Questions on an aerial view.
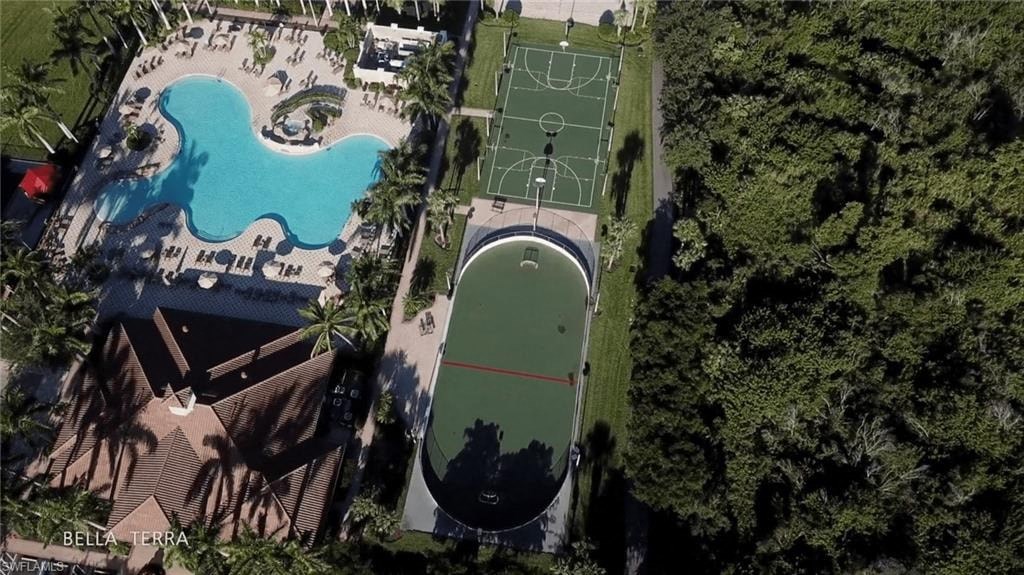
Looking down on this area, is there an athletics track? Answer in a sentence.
No, this view has no athletics track in it.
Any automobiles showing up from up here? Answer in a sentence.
No, no automobile is visible in the view.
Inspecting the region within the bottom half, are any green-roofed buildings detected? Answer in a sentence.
No, no green-roofed building appears within the bottom half.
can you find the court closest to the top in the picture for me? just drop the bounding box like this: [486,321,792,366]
[519,0,637,24]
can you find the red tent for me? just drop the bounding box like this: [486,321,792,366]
[18,164,61,202]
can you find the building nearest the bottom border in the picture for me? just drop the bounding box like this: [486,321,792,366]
[46,306,341,554]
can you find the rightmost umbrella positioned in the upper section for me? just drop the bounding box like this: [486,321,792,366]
[376,96,396,114]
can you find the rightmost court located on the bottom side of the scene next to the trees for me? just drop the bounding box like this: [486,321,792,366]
[418,228,592,534]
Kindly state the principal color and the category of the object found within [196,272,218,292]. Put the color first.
white umbrella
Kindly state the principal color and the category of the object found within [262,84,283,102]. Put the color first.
white umbrella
